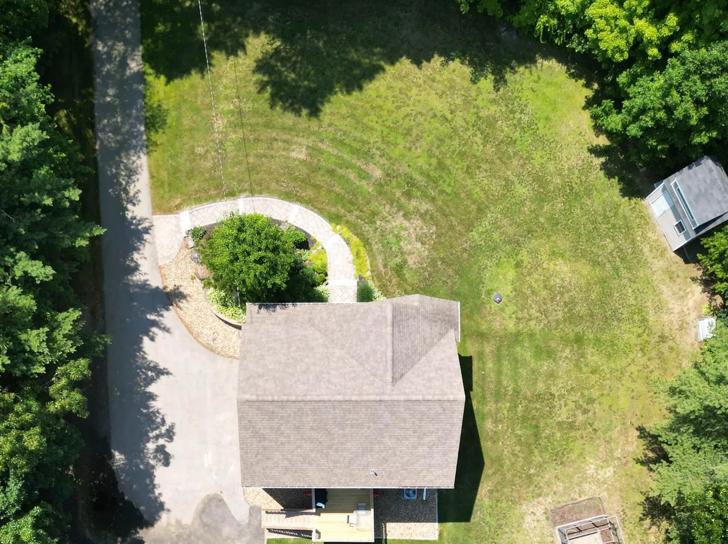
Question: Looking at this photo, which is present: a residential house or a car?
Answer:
residential house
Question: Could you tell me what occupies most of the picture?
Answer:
grass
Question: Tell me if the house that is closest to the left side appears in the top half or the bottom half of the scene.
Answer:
bottom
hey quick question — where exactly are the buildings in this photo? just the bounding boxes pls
[235,288,464,490]
[646,154,728,252]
